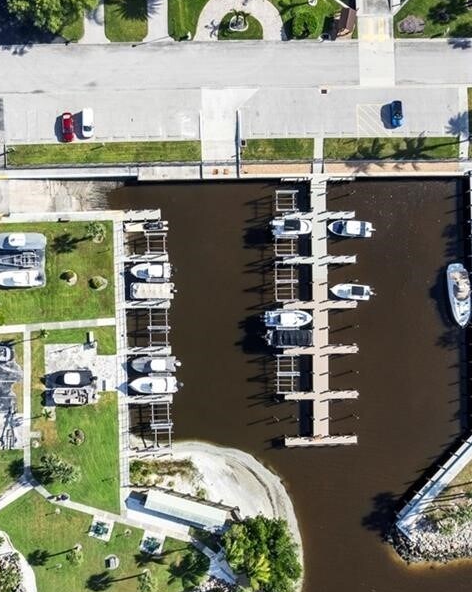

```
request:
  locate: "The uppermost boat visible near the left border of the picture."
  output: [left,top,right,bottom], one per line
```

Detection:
[0,233,47,249]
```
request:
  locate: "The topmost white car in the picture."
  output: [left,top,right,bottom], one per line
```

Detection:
[80,107,95,137]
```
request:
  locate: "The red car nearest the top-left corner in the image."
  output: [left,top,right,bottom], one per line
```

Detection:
[60,113,75,142]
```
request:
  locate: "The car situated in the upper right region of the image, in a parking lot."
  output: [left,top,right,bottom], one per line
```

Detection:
[388,100,404,129]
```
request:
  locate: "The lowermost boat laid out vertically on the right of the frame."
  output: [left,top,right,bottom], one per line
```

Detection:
[448,258,472,328]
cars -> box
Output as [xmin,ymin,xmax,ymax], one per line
[80,107,95,137]
[388,100,404,129]
[60,113,75,142]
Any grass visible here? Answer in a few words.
Yes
